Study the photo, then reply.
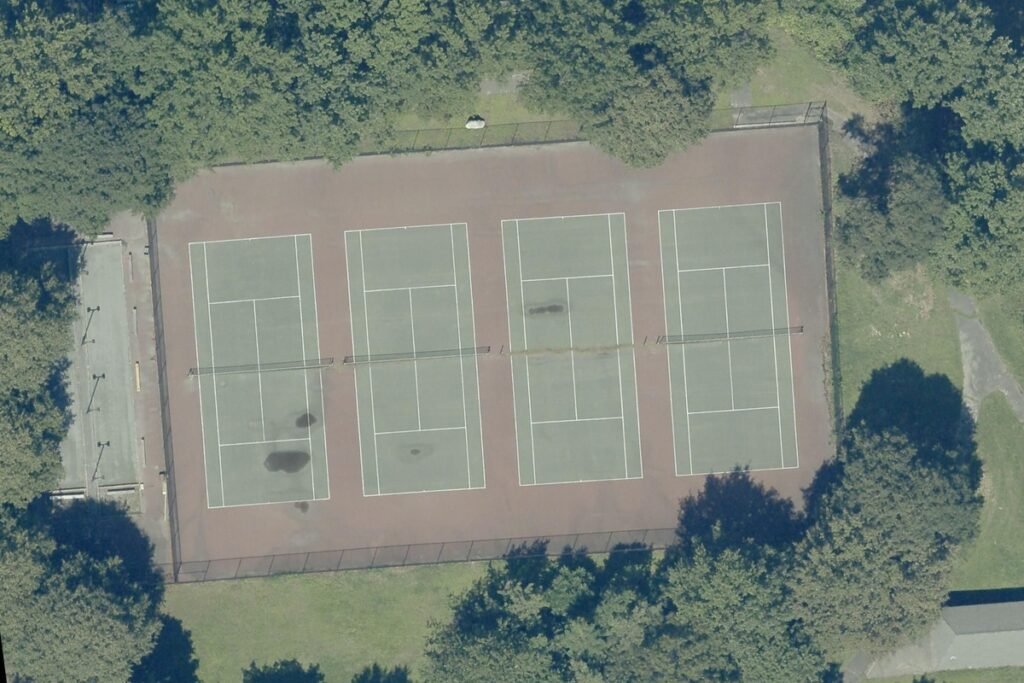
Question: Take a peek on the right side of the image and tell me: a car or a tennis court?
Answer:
tennis court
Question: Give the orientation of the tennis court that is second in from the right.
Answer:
up and down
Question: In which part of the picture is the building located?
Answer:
bottom right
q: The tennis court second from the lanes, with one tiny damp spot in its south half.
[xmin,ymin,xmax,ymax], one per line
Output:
[345,223,486,496]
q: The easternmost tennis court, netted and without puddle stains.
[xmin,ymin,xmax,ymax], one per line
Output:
[658,202,798,475]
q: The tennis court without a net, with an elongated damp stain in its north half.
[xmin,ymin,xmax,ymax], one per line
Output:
[502,212,642,485]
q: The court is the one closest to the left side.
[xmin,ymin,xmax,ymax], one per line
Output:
[189,235,329,508]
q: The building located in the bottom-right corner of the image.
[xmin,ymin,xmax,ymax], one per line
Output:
[934,602,1024,671]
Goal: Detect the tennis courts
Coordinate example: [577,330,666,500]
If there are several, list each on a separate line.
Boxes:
[345,223,486,496]
[189,235,329,508]
[658,202,798,475]
[502,212,642,485]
